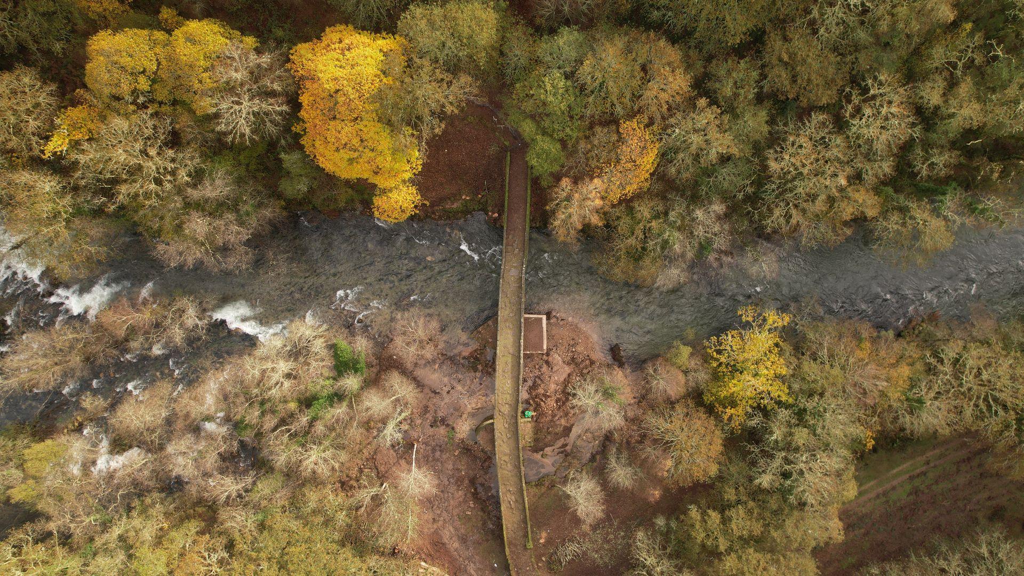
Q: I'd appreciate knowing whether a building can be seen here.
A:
No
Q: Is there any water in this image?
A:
Yes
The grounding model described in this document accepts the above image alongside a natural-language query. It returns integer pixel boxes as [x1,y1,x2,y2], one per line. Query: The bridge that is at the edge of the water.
[494,151,535,576]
